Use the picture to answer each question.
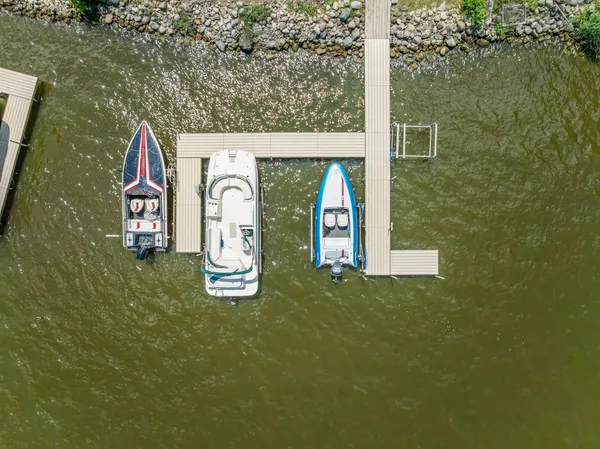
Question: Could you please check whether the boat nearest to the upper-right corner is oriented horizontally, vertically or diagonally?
vertically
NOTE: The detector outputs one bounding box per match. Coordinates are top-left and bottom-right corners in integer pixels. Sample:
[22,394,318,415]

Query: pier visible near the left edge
[0,67,40,210]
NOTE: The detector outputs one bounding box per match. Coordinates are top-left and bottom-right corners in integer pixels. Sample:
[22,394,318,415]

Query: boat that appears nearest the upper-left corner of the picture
[122,120,169,263]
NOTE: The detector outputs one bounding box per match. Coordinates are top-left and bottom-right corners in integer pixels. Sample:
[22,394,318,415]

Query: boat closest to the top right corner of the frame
[315,162,358,282]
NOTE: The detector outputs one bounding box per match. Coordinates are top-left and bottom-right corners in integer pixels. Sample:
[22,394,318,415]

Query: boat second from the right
[200,149,260,304]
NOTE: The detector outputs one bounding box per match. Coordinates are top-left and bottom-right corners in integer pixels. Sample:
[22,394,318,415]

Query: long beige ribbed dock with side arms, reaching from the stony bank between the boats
[170,36,446,281]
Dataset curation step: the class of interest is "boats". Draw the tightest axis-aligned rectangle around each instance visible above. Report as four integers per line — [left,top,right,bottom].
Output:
[200,149,260,304]
[315,162,358,282]
[122,120,169,263]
